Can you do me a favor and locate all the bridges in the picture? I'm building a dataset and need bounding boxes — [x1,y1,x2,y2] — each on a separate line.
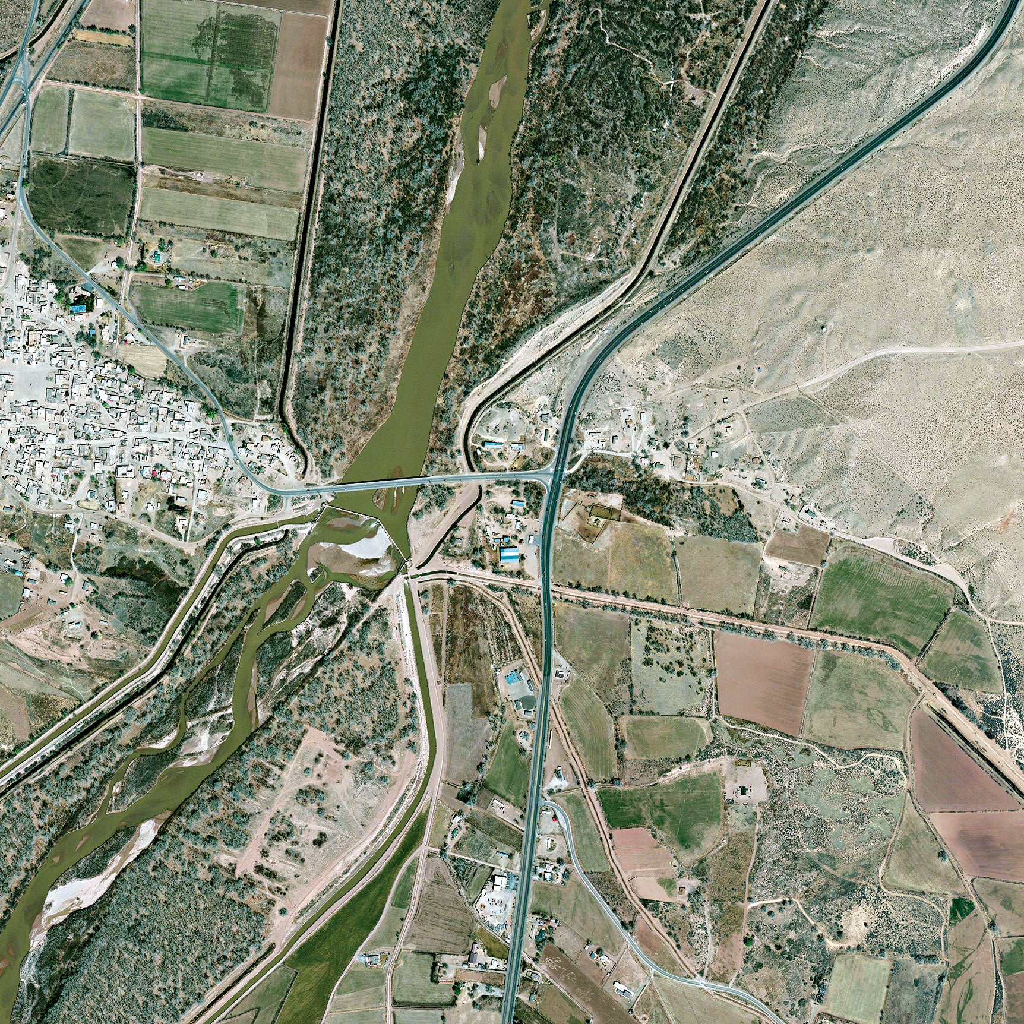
[327,479,426,494]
